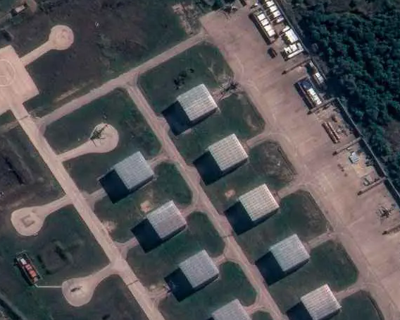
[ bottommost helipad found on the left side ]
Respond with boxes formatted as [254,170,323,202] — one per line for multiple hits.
[64,263,119,303]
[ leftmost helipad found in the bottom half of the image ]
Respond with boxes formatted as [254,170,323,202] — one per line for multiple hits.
[12,194,74,232]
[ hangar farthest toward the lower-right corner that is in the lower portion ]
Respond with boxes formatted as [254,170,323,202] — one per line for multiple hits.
[302,285,340,320]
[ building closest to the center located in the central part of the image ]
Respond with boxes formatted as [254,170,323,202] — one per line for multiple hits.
[209,134,248,174]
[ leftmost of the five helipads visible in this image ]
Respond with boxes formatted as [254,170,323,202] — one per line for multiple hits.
[0,45,37,114]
